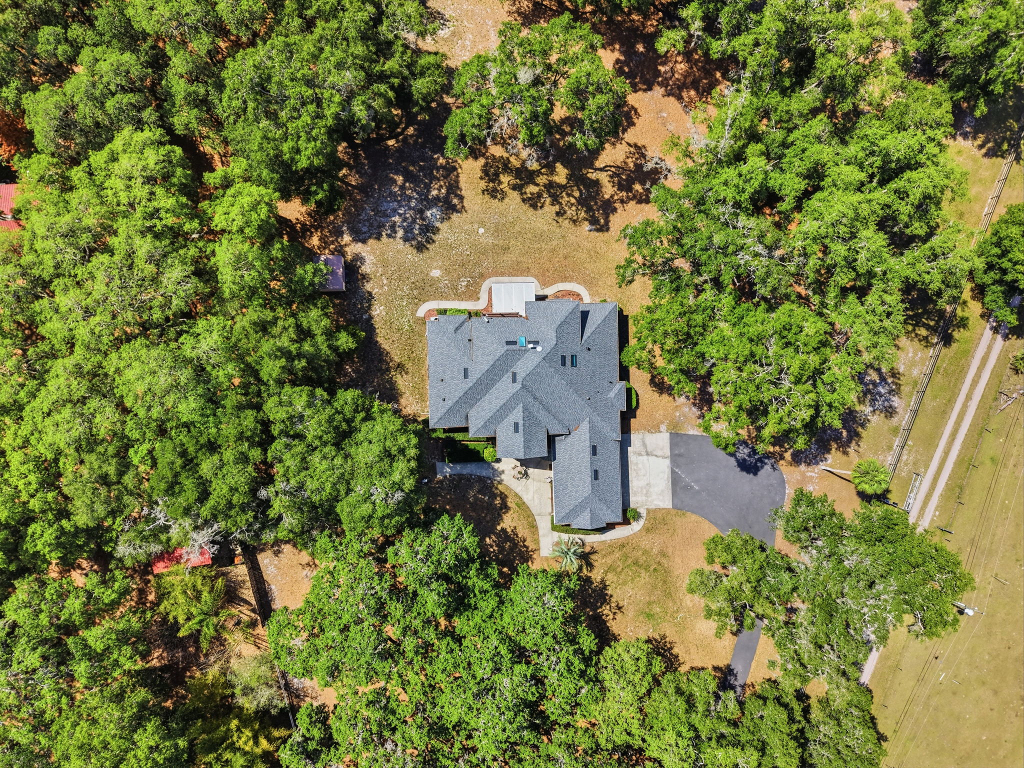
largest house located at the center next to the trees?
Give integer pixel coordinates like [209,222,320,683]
[421,301,626,530]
